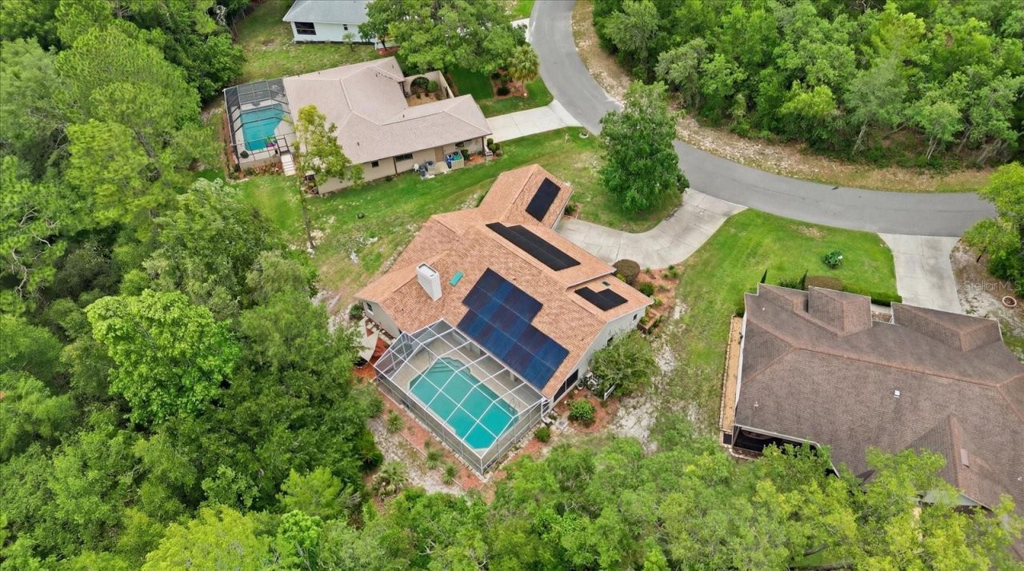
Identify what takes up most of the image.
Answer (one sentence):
For the most part, this view shows trees.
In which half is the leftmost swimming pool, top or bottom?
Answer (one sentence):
You can find the leftmost swimming pool in the top half.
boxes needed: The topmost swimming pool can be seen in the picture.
[240,99,286,152]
